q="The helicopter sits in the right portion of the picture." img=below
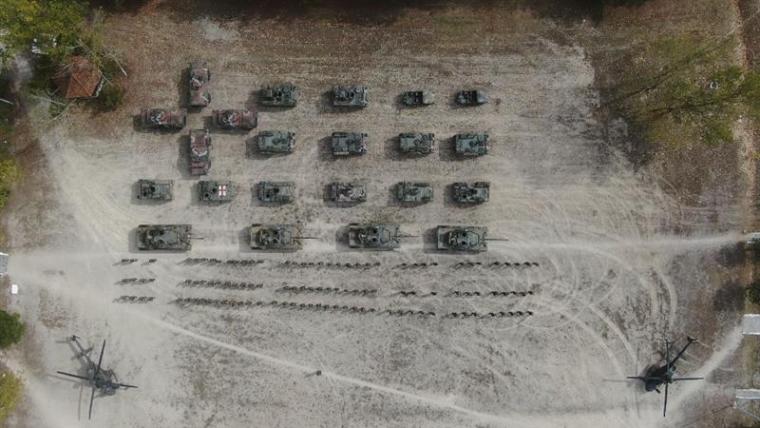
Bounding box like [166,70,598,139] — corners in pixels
[626,335,705,418]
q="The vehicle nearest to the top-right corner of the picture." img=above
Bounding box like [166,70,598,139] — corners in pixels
[454,91,488,105]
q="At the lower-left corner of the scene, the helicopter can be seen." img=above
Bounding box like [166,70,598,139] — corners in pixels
[59,335,137,418]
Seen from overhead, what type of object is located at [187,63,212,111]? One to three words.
truck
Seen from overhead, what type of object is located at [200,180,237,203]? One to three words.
vehicle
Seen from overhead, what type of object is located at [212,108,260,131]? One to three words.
truck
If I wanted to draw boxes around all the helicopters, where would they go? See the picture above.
[59,335,137,418]
[626,335,705,418]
